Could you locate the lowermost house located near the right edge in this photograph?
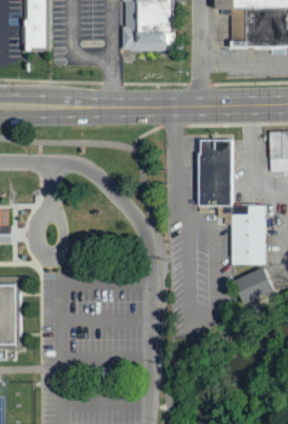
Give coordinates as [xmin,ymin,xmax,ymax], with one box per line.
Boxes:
[236,266,278,305]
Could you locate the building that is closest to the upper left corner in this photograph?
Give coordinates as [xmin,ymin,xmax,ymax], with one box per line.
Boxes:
[26,0,50,53]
